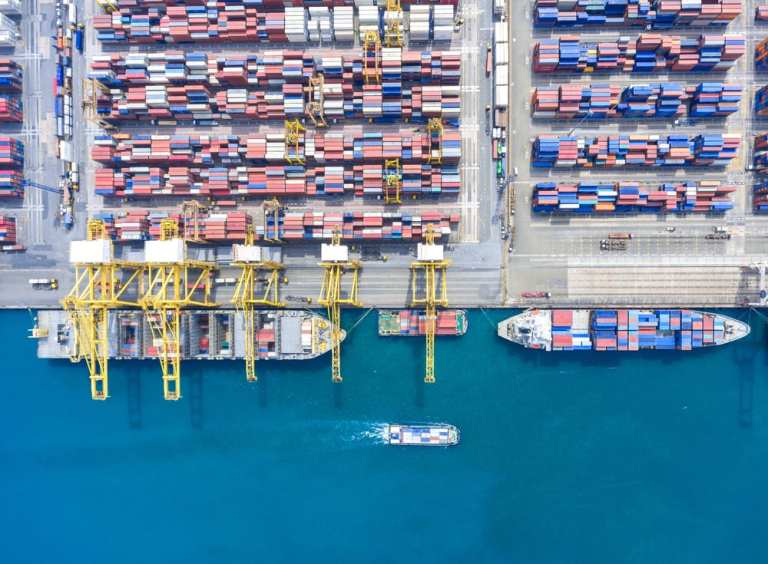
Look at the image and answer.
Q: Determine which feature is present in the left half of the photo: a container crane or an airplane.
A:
container crane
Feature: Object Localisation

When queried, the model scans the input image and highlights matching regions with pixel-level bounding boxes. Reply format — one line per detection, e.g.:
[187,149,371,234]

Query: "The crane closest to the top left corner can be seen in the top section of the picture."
[98,0,132,46]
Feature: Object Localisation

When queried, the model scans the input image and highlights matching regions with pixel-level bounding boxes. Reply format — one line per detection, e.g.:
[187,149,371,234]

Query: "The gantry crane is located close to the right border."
[733,263,768,306]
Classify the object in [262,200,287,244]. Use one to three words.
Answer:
container crane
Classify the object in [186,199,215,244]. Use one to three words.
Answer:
container crane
